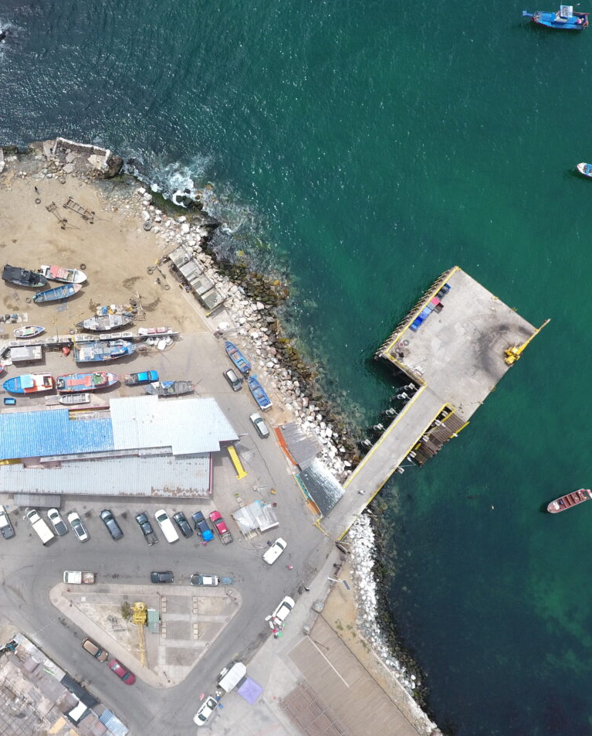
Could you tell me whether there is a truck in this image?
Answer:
Yes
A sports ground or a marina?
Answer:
marina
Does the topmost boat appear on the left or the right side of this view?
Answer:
right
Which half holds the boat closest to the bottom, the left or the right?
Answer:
right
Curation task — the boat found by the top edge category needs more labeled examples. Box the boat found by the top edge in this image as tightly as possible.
[524,6,590,34]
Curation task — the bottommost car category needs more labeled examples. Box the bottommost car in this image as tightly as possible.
[193,693,219,726]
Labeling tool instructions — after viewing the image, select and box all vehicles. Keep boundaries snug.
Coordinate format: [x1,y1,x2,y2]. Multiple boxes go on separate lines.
[151,570,174,583]
[209,509,235,546]
[108,657,137,685]
[67,511,89,542]
[222,367,243,393]
[24,508,54,547]
[250,411,271,439]
[193,693,219,726]
[191,509,215,544]
[47,507,70,538]
[217,658,251,698]
[154,508,181,544]
[268,595,297,631]
[101,508,125,542]
[136,511,160,547]
[0,504,15,540]
[173,509,195,539]
[80,635,110,663]
[262,534,287,566]
[124,370,159,386]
